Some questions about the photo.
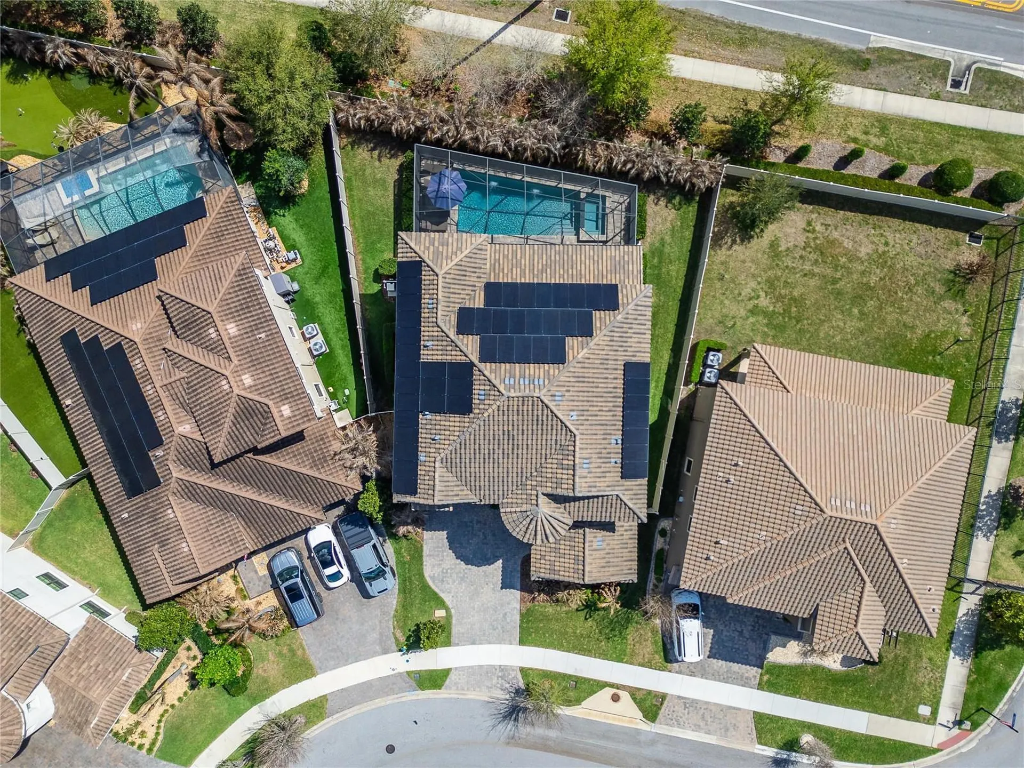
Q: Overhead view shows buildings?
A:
Yes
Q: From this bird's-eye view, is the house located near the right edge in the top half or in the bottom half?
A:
bottom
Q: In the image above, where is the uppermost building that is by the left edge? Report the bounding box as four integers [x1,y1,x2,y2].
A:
[6,185,362,604]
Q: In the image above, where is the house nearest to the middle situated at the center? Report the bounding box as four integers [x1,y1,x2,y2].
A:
[391,231,654,585]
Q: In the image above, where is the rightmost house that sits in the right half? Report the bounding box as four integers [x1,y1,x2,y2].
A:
[667,343,980,664]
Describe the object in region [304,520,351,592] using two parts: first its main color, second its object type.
white car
